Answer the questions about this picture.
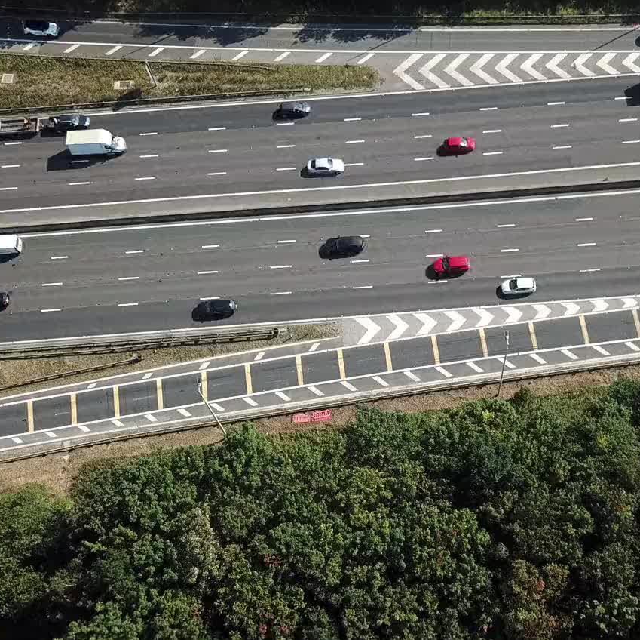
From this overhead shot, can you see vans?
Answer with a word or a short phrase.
Yes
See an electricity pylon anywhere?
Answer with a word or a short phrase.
No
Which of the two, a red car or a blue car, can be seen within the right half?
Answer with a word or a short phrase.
red car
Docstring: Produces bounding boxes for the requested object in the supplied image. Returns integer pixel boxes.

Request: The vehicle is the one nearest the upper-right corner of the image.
[446,136,477,154]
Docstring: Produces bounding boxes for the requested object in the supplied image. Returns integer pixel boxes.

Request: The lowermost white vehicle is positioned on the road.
[500,276,537,296]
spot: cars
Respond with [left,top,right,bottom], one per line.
[0,292,13,310]
[24,21,59,38]
[326,237,364,256]
[199,297,238,317]
[500,276,537,296]
[434,255,470,275]
[278,101,312,119]
[308,158,344,177]
[51,113,91,132]
[446,136,477,154]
